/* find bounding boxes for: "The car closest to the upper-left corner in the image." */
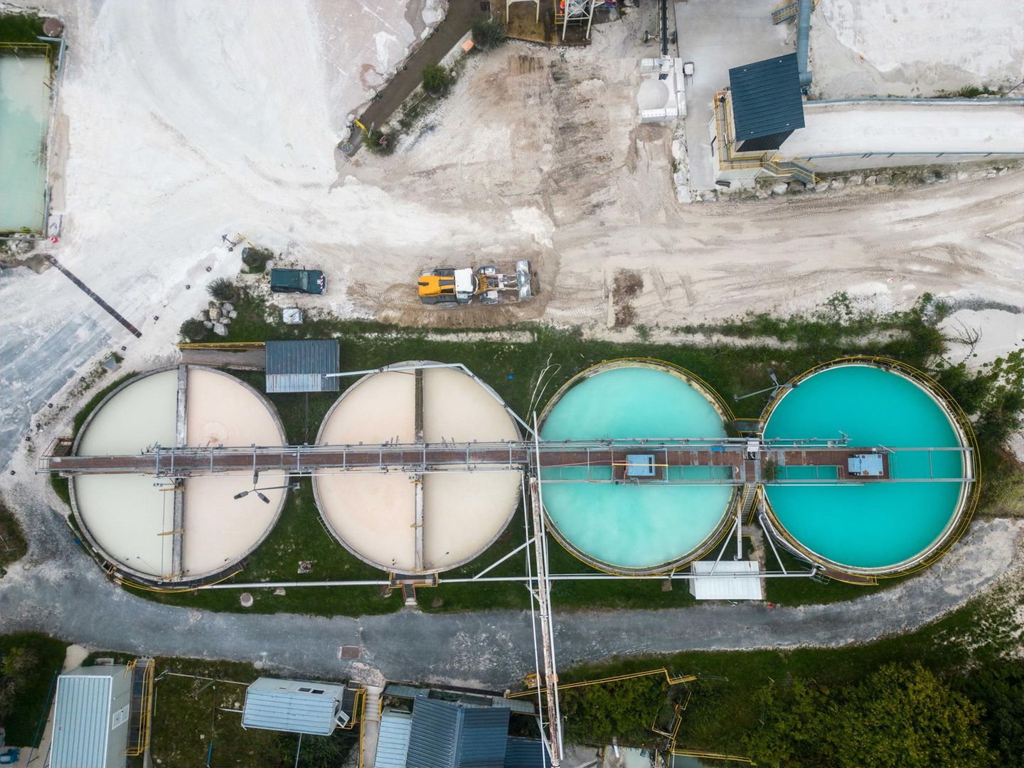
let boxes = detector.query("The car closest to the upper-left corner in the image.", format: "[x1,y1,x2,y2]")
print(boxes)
[271,270,327,296]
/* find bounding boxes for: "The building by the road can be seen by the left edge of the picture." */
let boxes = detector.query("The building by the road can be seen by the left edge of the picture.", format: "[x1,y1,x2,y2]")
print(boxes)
[48,666,130,768]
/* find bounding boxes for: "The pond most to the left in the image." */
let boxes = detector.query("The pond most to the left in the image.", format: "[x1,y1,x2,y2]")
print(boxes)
[0,39,51,233]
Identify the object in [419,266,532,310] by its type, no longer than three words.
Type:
work vehicle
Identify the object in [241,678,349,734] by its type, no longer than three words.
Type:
building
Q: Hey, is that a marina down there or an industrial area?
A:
industrial area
